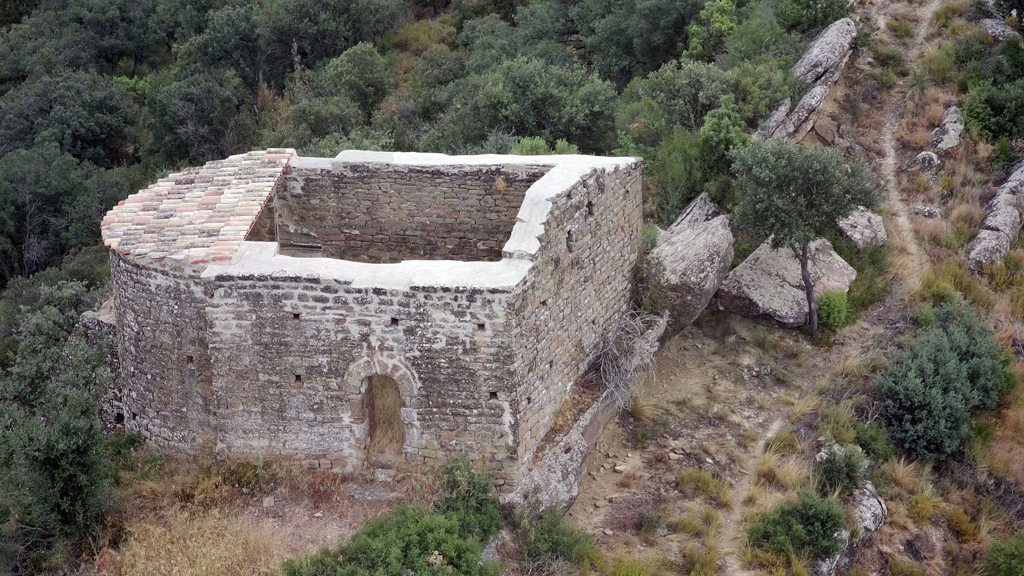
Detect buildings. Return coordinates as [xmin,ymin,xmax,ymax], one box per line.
[99,152,641,494]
